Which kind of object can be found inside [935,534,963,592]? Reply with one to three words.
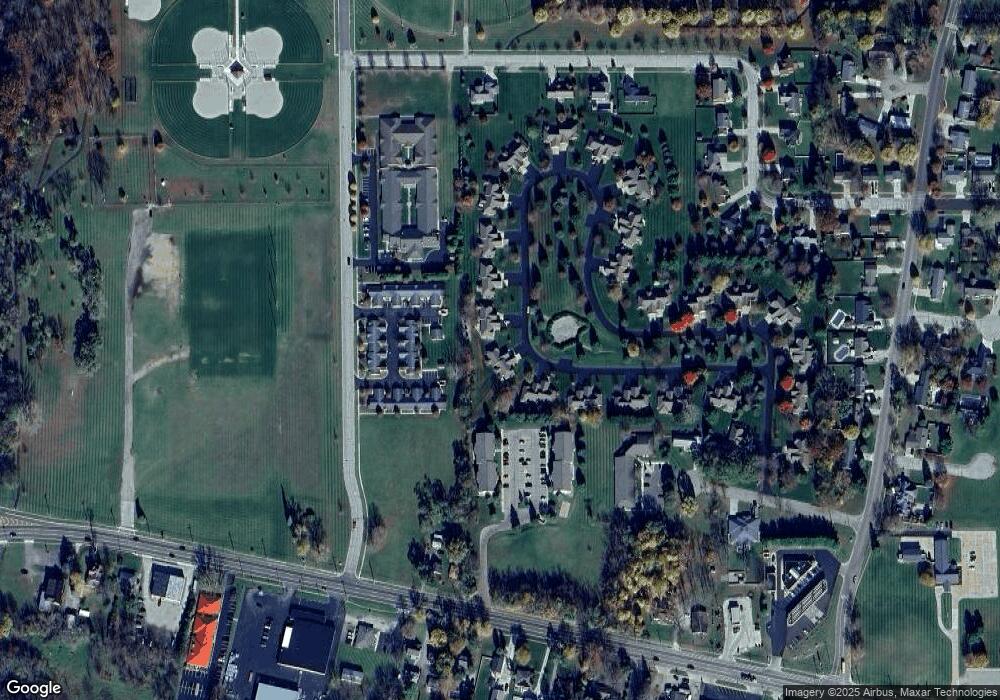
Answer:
building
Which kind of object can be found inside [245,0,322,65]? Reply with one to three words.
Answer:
baseball field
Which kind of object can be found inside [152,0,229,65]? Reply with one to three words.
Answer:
baseball field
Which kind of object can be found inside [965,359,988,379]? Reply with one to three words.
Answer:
house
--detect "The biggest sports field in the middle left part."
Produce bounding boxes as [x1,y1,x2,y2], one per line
[189,228,276,377]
